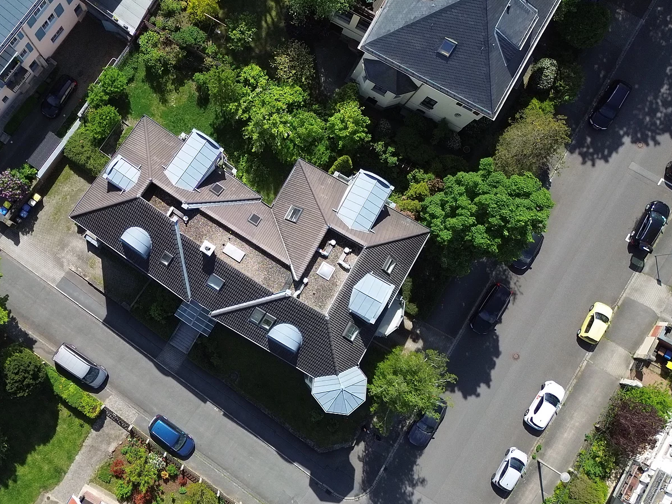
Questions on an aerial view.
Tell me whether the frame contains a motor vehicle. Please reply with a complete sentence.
Yes, there's a motor vehicle down there.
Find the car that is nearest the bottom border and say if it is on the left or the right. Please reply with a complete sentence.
The car that is nearest the bottom border is on the right side of the image.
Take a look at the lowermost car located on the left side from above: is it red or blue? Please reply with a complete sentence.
The lowermost car located on the left side looks blue in the image.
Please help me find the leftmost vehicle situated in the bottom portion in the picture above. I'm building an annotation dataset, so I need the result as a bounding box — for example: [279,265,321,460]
[52,341,109,391]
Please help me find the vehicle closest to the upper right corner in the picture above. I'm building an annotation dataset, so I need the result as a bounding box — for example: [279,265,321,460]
[589,77,634,131]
